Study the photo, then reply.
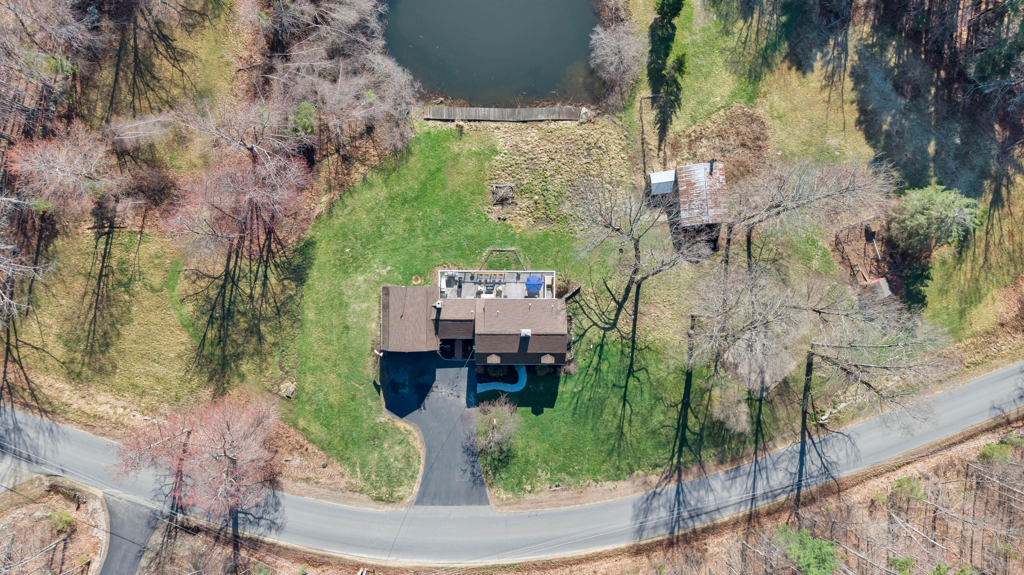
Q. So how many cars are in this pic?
zero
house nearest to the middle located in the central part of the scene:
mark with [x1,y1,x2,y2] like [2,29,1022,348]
[382,286,568,366]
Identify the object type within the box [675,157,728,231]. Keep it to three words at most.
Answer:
barn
